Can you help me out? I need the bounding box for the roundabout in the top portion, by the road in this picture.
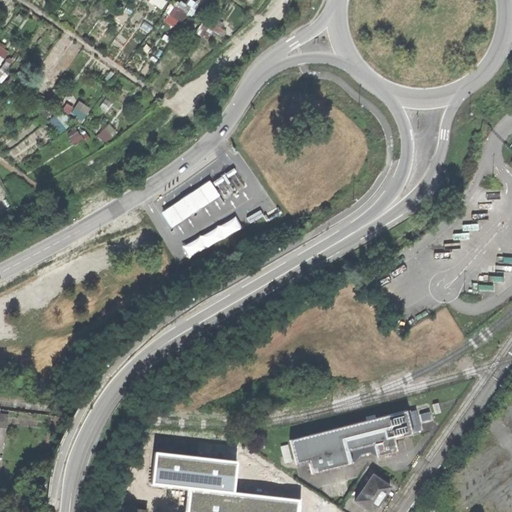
[328,0,512,108]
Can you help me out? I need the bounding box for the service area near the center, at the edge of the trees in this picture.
[147,146,277,262]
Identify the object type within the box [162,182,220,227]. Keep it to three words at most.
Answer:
building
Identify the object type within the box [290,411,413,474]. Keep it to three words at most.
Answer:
building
